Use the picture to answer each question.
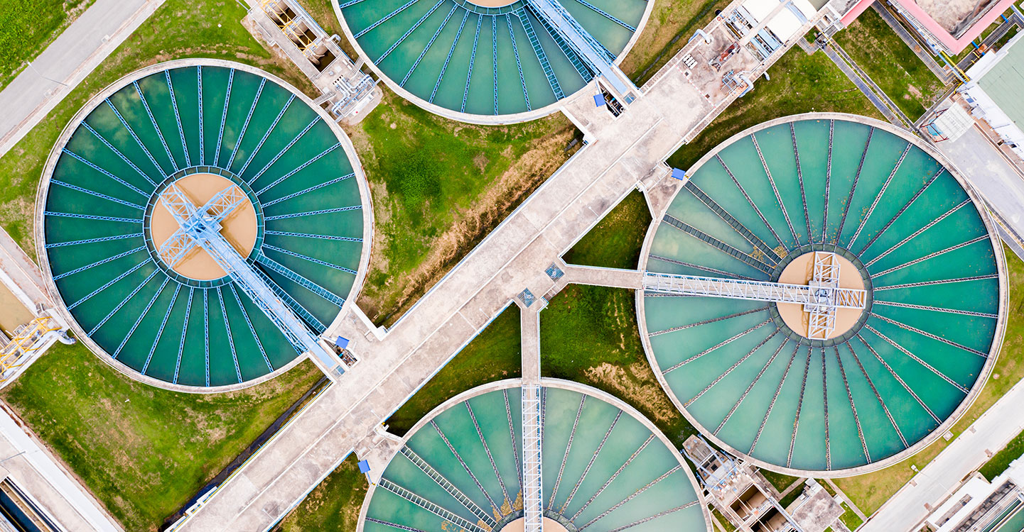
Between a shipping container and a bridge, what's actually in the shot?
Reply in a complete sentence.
I can see a bridge in this picture.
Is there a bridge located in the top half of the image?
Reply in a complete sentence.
Yes, the scene does show a bridge in the top half of the image.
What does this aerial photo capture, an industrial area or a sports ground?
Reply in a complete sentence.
The area seen from above is an industrial area.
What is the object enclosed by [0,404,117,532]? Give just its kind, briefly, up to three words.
building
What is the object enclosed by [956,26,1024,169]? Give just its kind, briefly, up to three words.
building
